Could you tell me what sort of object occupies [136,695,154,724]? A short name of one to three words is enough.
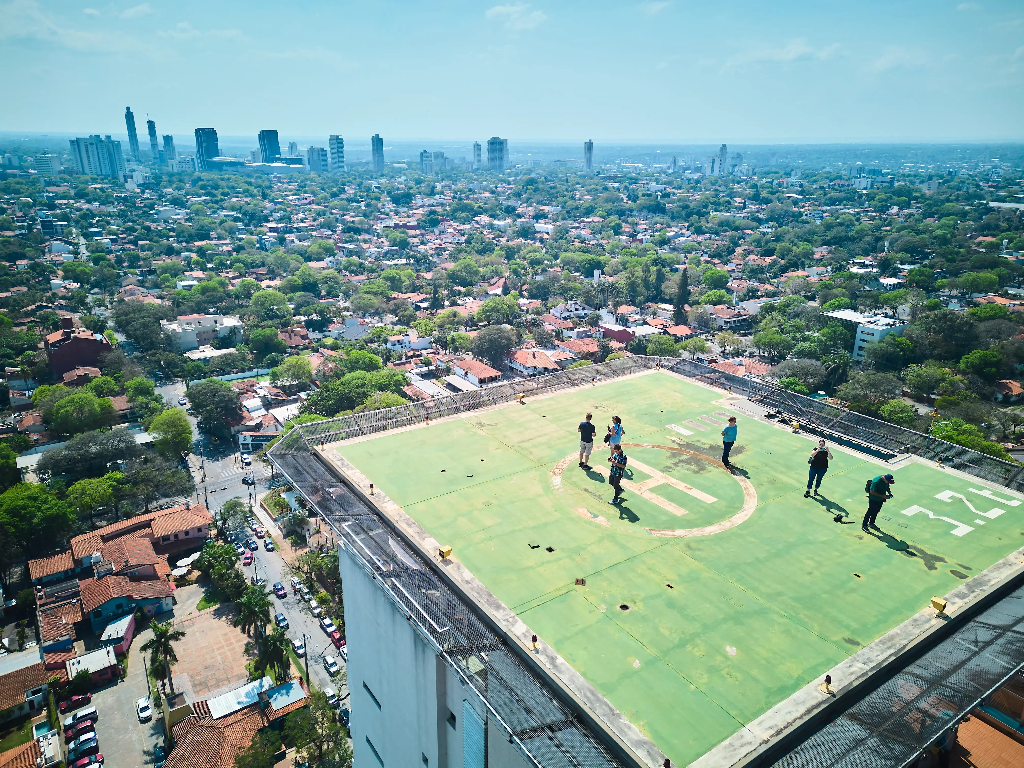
car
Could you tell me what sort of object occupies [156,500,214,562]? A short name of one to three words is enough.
house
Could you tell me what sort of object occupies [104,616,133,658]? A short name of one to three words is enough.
house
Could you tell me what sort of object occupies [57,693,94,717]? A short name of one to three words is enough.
car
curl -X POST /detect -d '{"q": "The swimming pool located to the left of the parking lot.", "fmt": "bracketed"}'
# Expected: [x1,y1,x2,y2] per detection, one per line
[34,719,53,733]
